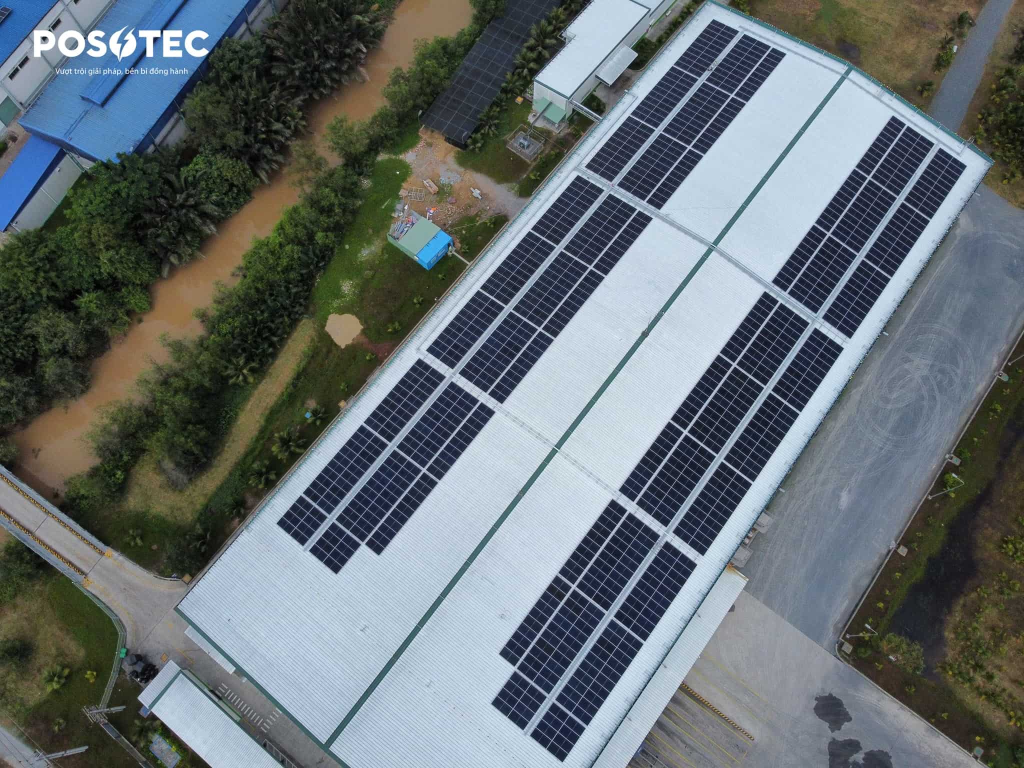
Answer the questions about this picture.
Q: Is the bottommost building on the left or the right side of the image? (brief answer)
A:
left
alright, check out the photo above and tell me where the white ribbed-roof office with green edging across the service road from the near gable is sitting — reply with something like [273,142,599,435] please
[138,659,297,768]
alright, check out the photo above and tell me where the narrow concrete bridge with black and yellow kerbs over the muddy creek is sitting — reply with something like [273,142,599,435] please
[0,459,118,590]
